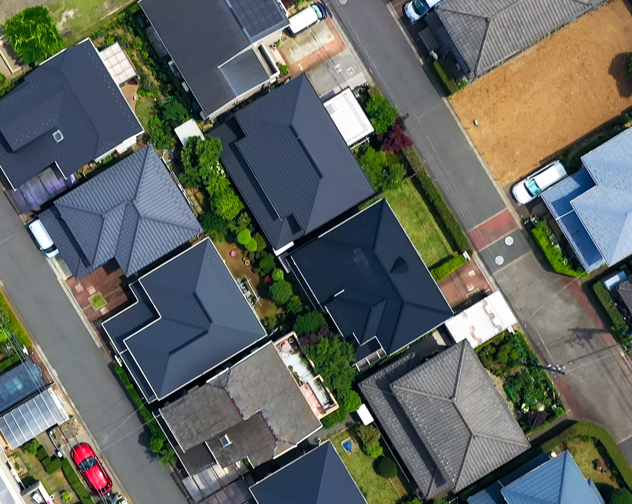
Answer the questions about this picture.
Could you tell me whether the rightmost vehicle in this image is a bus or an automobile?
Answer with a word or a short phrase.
automobile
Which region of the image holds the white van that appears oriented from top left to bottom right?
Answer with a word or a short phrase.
left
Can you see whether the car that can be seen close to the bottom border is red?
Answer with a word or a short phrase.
Yes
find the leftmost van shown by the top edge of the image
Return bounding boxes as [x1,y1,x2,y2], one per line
[284,0,331,38]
